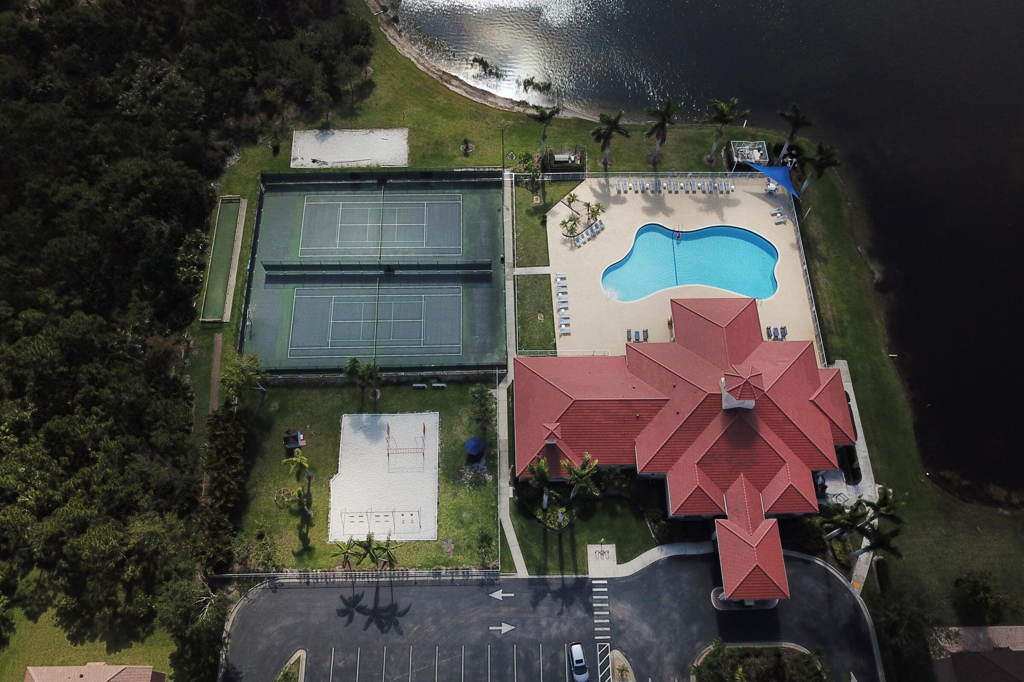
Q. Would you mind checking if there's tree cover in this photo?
Yes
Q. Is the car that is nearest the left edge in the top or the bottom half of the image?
bottom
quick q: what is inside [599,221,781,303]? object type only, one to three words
swimming pool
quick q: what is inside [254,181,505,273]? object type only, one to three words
tennis court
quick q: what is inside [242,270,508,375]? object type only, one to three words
tennis court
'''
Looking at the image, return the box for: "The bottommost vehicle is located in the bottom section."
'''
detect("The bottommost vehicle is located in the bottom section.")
[569,642,591,682]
